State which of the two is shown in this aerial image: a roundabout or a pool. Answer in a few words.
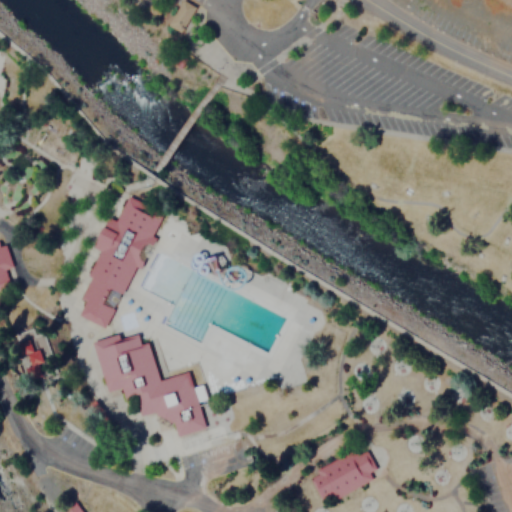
pool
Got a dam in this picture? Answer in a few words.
No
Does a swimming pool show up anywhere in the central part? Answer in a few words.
Yes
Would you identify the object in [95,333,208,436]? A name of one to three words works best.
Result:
building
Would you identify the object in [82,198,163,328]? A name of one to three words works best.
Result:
building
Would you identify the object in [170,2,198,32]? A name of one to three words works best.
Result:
shed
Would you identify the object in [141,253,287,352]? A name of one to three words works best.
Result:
swimming pool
